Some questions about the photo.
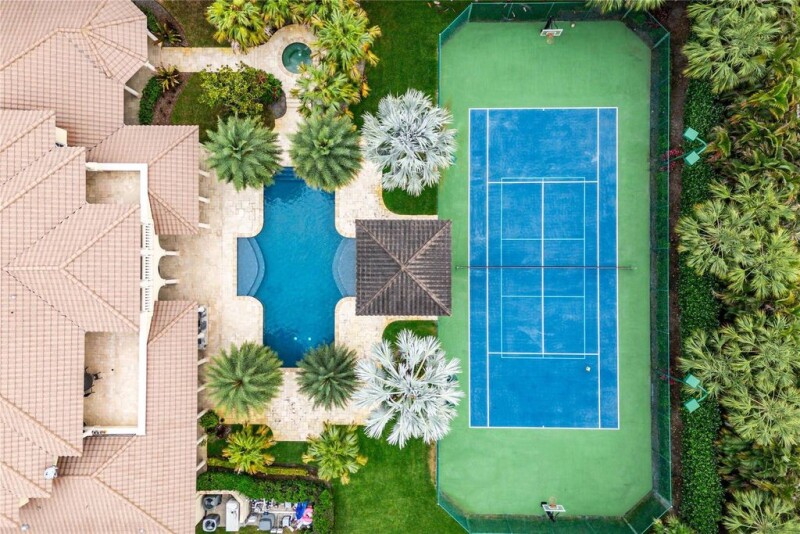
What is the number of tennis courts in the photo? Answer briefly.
1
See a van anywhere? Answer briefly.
No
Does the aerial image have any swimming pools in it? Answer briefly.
Yes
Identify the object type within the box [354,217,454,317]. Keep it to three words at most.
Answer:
gazebo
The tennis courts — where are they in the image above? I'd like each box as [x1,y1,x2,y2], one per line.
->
[441,23,652,515]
